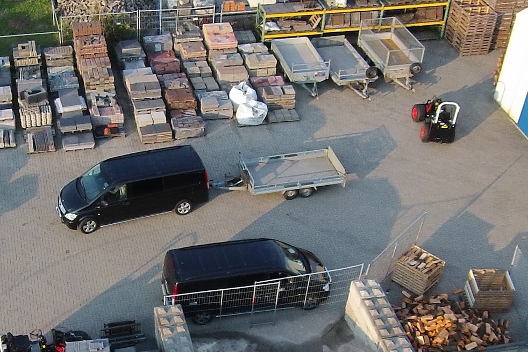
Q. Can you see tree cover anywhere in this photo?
No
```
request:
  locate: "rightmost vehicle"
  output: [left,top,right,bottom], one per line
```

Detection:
[409,82,468,142]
